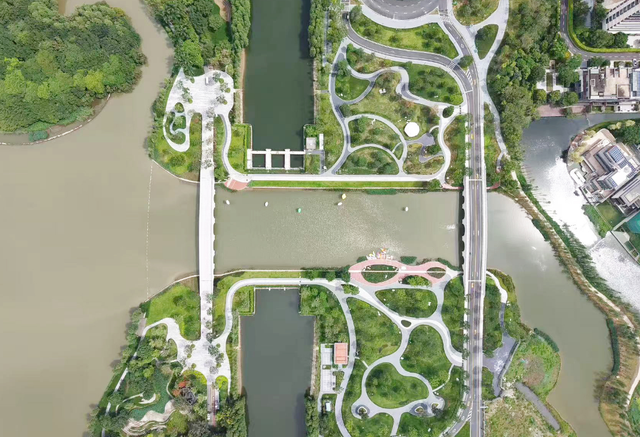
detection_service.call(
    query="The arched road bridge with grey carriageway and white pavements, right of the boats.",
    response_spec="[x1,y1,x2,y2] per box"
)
[462,179,489,281]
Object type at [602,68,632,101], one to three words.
house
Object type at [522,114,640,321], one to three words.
pond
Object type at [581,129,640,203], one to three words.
house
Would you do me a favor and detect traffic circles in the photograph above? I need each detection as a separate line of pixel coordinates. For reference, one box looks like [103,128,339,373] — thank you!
[352,0,449,29]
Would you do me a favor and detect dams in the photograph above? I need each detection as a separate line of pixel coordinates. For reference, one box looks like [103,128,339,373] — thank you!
[248,148,304,169]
